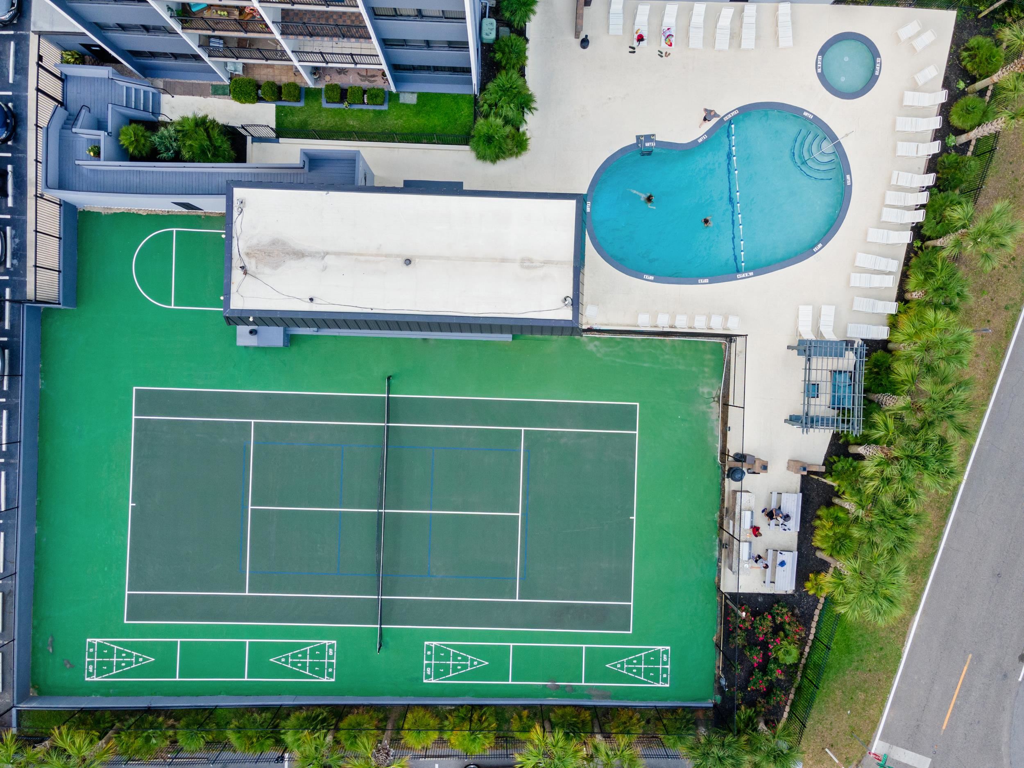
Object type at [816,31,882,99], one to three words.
swimming pool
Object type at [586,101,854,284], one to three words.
swimming pool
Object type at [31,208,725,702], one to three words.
tennis court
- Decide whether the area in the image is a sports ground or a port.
sports ground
